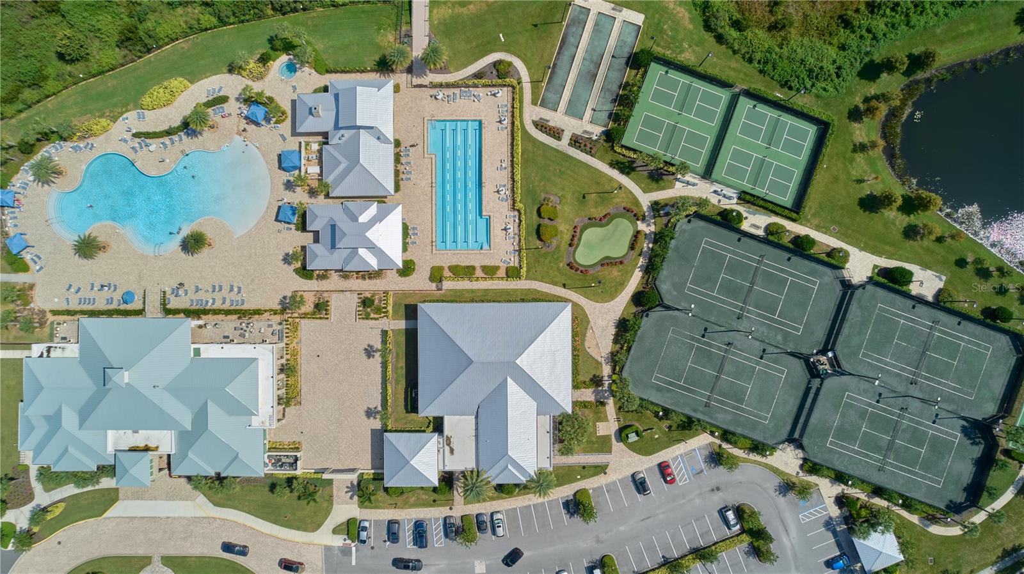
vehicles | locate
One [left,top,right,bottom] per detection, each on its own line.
[491,511,504,538]
[393,557,423,571]
[388,518,399,544]
[279,558,306,572]
[719,506,738,531]
[445,514,457,540]
[415,520,427,549]
[501,546,525,567]
[222,541,249,556]
[659,460,676,485]
[357,519,369,545]
[477,512,488,534]
[633,470,650,496]
[825,553,849,571]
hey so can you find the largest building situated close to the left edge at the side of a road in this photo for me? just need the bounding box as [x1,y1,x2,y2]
[18,318,283,479]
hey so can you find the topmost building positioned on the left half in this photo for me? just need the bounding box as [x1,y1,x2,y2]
[297,80,394,196]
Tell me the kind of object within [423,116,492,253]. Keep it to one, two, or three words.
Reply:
swimming pool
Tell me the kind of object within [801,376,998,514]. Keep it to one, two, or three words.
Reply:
tennis court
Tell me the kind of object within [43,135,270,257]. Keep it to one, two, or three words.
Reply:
swimming pool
